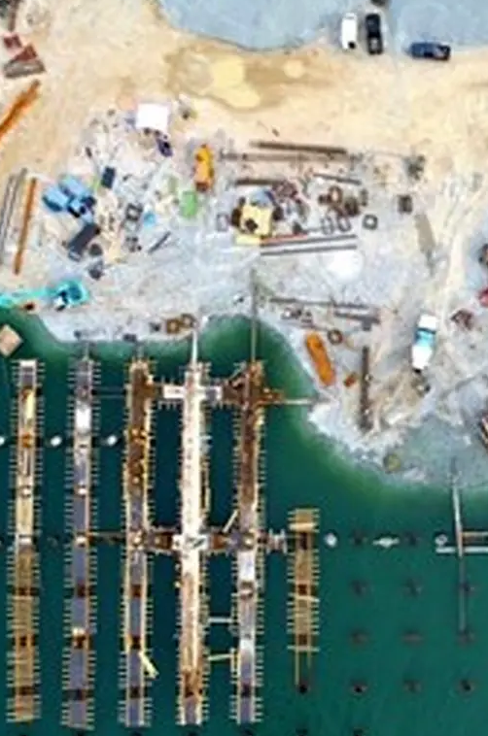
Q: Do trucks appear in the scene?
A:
Yes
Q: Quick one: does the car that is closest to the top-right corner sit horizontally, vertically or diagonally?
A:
horizontally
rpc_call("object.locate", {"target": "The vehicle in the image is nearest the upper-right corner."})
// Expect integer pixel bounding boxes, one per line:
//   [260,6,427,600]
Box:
[410,39,449,59]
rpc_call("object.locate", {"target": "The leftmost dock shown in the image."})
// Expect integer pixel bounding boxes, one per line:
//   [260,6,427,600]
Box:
[5,360,46,723]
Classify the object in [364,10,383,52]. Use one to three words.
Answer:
car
